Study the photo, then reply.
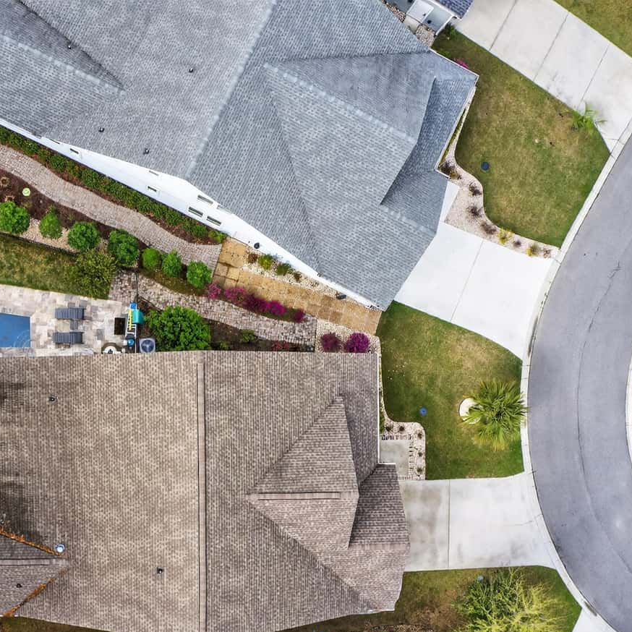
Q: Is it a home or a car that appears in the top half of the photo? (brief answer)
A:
home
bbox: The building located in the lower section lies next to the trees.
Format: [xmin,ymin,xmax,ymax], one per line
[0,353,409,632]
